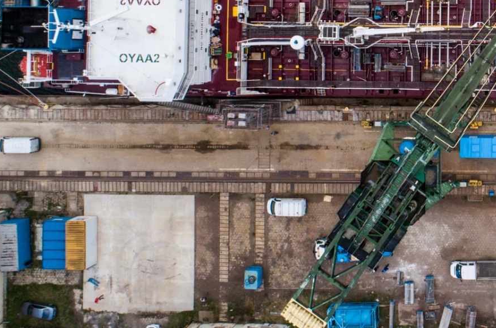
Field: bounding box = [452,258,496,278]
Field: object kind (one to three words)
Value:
vehicle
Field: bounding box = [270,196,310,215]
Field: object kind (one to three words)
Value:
vehicle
